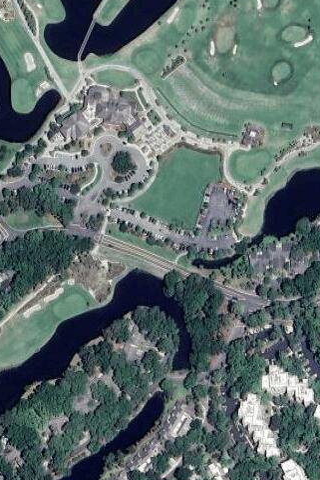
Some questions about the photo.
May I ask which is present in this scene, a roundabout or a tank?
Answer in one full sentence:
Of the two, only a roundabout appears.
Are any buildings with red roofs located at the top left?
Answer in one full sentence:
No, looking at the top left, there is no building with a red roof.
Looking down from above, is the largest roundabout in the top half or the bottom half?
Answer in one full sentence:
The largest roundabout sits in the top half of the picture.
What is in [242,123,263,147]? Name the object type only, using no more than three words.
building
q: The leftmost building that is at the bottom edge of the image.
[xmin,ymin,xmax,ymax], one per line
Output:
[0,443,26,465]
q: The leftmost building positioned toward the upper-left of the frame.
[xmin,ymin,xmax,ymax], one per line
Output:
[59,109,95,142]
